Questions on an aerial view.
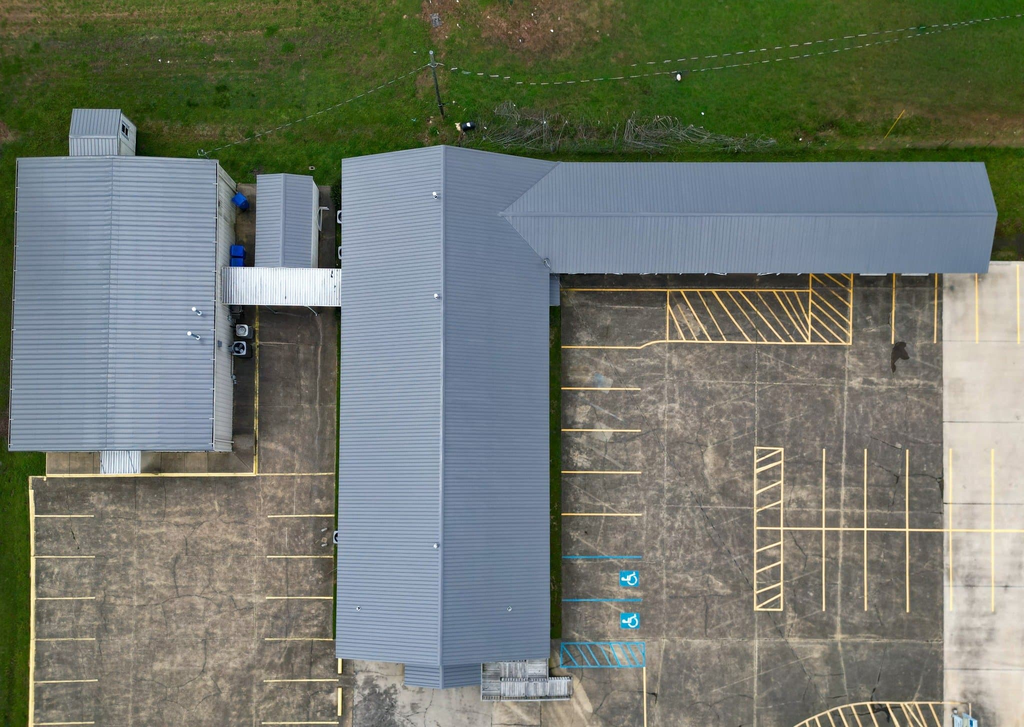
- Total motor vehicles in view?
zero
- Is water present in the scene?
No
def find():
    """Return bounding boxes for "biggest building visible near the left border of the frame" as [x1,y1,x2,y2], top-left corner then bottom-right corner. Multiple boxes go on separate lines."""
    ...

[7,147,237,474]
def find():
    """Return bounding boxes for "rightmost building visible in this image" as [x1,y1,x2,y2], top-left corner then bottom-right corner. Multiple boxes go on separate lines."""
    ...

[335,144,999,690]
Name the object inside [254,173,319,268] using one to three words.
shed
